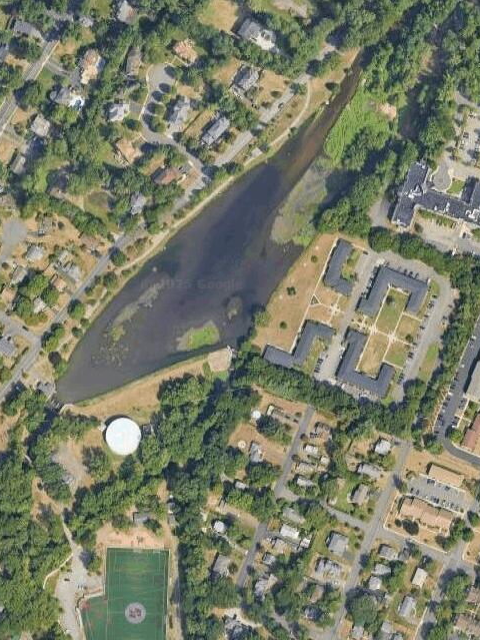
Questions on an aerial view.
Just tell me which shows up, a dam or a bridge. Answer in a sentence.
I can see a dam in this picture.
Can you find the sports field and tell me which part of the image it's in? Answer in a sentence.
Look in the bottom left portion of the view to spot the sports field.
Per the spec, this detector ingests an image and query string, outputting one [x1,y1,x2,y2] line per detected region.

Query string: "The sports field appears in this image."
[81,548,169,640]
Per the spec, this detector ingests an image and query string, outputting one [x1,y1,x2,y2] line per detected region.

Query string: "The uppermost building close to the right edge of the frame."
[390,163,480,227]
